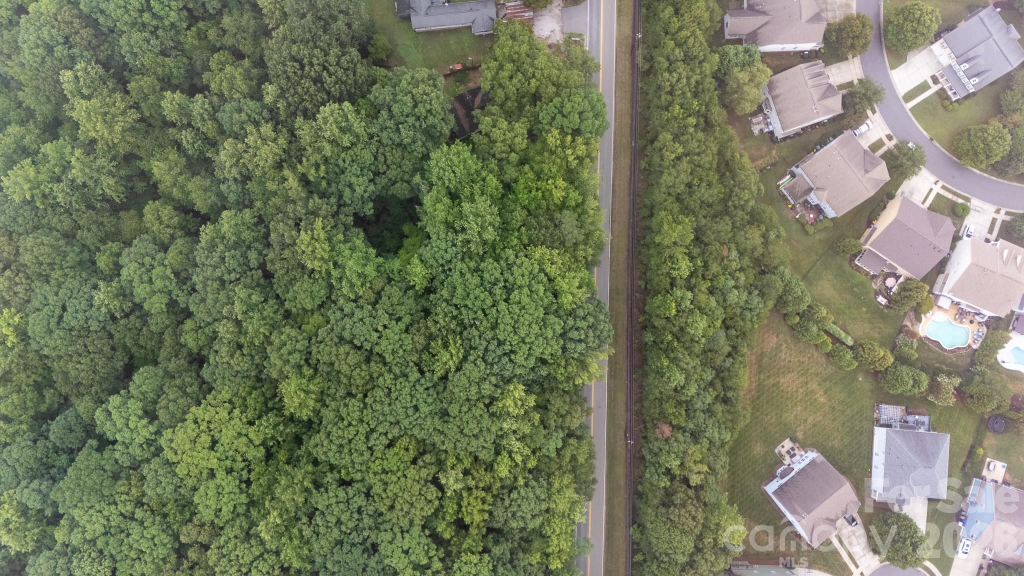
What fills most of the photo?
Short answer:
trees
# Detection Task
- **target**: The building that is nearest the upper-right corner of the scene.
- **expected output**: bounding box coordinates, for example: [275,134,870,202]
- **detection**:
[930,5,1024,100]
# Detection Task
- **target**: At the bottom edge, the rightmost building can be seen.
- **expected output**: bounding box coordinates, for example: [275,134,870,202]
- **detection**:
[960,476,1024,572]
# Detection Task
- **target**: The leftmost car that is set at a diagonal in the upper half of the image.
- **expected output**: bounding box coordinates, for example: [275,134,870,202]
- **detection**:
[852,120,872,137]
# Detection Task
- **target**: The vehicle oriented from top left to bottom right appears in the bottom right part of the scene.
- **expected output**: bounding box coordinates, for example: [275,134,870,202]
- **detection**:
[844,514,859,529]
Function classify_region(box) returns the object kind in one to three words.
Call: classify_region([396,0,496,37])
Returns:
house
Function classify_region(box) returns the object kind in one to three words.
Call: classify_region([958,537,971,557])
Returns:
vehicle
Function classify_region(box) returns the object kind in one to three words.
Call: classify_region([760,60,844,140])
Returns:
house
